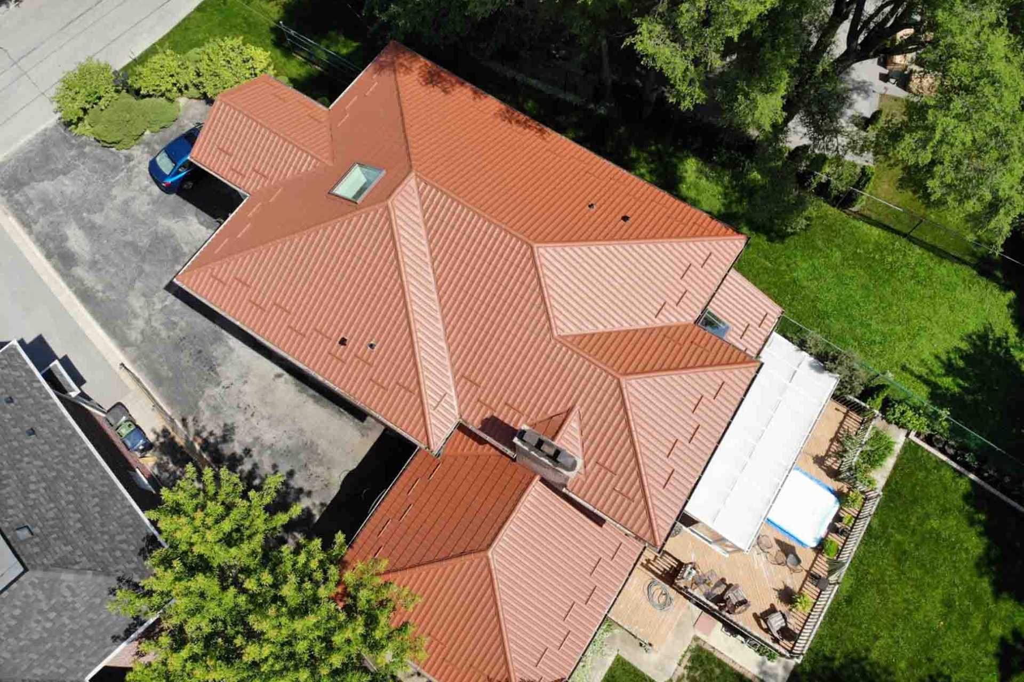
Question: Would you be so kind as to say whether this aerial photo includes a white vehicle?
No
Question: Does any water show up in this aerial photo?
No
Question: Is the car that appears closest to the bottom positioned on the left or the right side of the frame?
left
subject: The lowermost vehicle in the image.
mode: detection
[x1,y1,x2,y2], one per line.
[152,121,205,187]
